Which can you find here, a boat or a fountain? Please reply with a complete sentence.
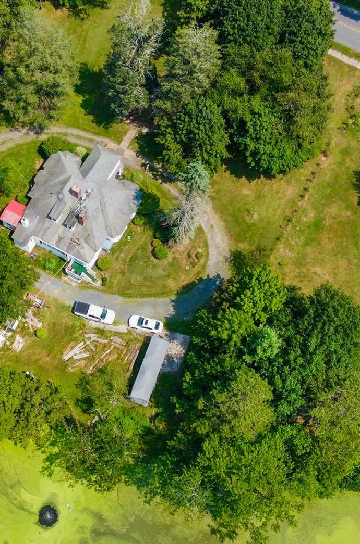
Looking from above, you can make out a fountain.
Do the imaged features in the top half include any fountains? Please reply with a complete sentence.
No, there's no fountain to be seen in the top half.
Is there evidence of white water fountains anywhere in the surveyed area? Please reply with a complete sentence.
No, I find no white water fountain anywhere in the image.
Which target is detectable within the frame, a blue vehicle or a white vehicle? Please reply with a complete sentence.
Looking from above, you can make out a white vehicle.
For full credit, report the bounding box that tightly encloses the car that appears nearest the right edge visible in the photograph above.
[127,316,165,336]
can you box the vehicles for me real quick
[71,302,117,324]
[127,316,165,336]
